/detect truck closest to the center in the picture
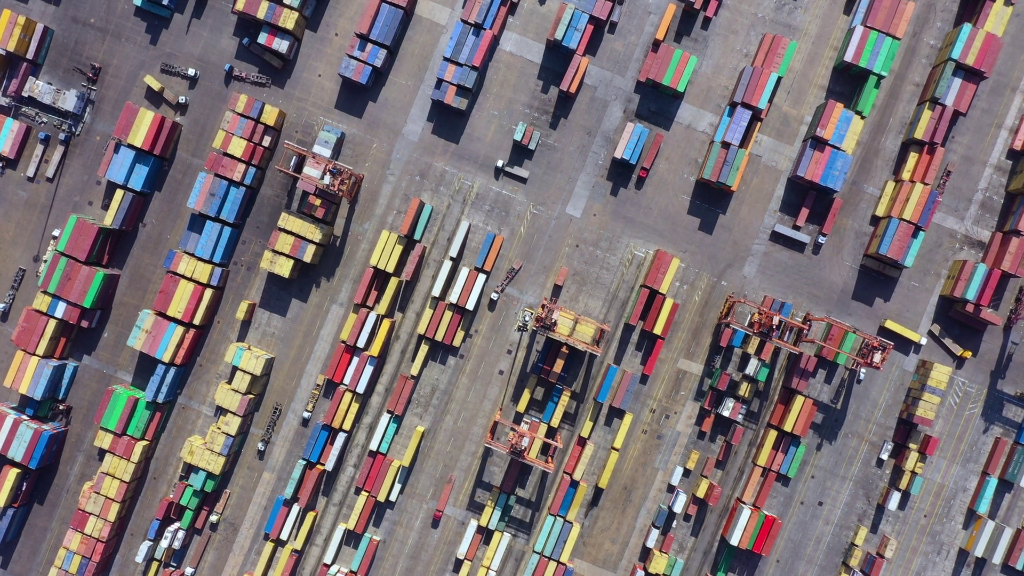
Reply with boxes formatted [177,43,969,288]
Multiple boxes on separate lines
[489,259,523,304]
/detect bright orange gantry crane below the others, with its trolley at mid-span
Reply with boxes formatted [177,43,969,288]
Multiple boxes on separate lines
[485,404,563,474]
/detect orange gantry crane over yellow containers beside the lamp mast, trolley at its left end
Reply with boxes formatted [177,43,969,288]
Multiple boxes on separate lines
[531,296,611,359]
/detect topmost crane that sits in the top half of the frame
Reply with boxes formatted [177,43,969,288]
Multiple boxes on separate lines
[275,141,360,203]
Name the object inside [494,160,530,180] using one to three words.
vehicle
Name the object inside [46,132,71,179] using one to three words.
truck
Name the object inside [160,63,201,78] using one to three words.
vehicle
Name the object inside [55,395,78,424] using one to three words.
work vehicle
